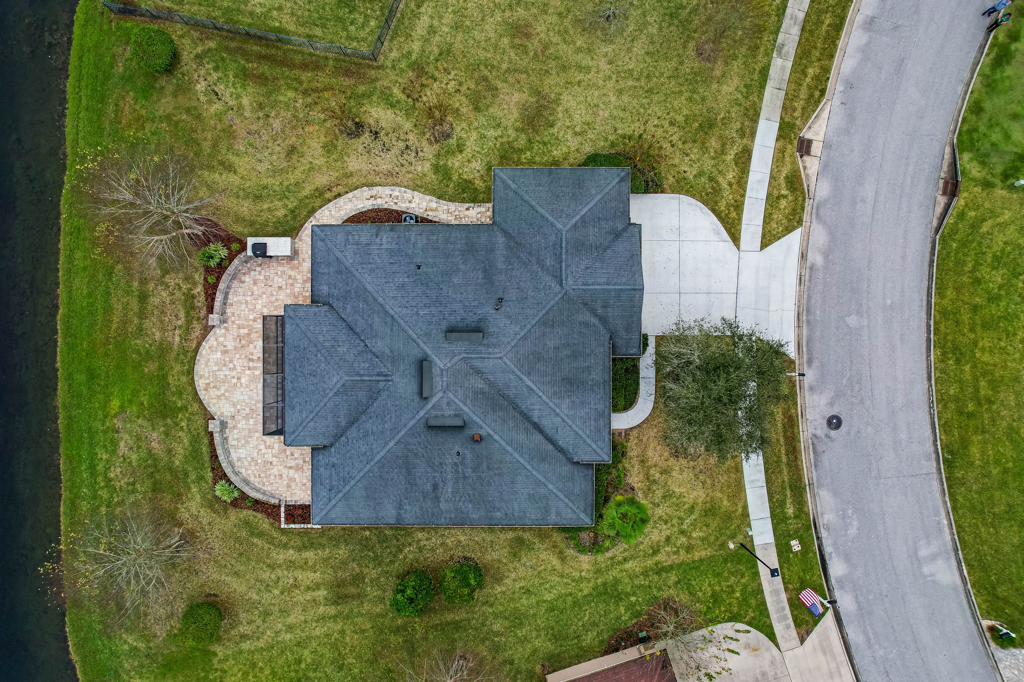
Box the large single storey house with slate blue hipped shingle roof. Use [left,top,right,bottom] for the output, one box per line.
[283,167,645,526]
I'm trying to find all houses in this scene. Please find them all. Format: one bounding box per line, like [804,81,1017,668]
[547,644,680,682]
[283,167,645,526]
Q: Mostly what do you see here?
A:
grass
